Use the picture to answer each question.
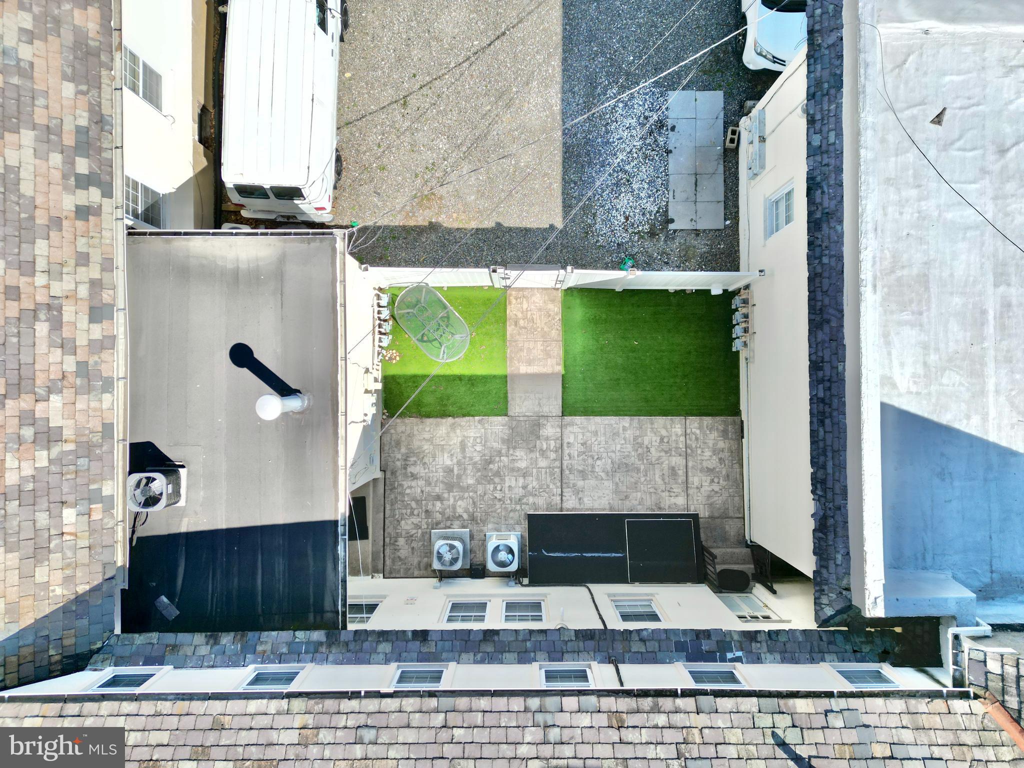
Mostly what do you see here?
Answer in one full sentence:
The bulk of the photo consists of buildings.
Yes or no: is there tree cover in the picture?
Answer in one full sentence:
No, there is no tree cover in the image.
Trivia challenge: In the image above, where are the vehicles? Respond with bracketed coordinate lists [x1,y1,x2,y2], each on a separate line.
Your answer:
[730,0,801,81]
[221,0,351,228]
